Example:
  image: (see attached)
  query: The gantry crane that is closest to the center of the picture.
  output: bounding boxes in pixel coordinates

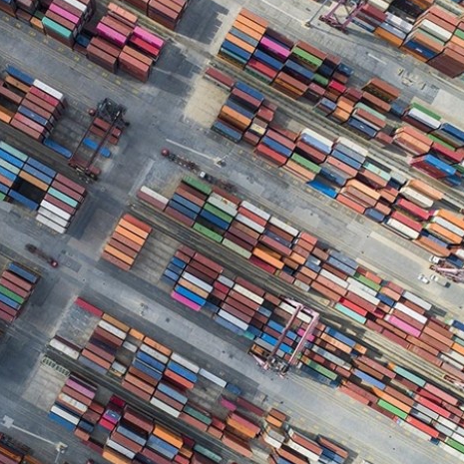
[250,293,324,378]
